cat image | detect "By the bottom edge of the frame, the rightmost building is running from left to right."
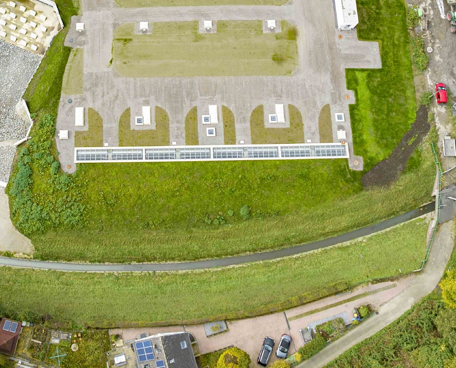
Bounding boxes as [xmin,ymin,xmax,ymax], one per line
[100,325,197,368]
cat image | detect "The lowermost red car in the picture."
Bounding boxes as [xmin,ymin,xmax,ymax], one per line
[434,83,449,106]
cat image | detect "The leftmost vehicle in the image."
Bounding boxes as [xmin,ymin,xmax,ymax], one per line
[256,334,278,368]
